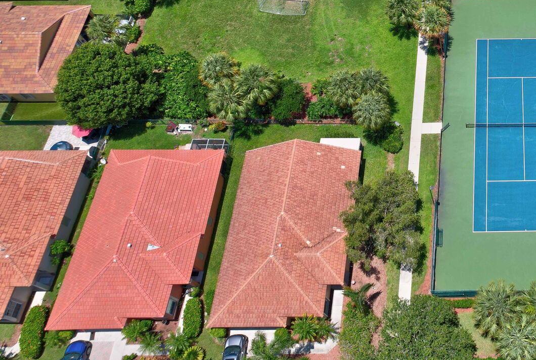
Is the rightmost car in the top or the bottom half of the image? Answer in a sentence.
The rightmost car sits in the bottom half of the picture.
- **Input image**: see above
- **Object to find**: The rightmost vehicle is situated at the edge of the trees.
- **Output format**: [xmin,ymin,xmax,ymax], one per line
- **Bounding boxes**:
[219,333,246,360]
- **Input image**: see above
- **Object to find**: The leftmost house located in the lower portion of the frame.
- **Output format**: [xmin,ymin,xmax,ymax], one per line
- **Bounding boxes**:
[0,151,92,321]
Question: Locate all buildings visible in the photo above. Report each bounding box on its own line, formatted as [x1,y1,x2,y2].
[205,137,362,329]
[0,151,92,321]
[46,149,227,332]
[0,1,93,100]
